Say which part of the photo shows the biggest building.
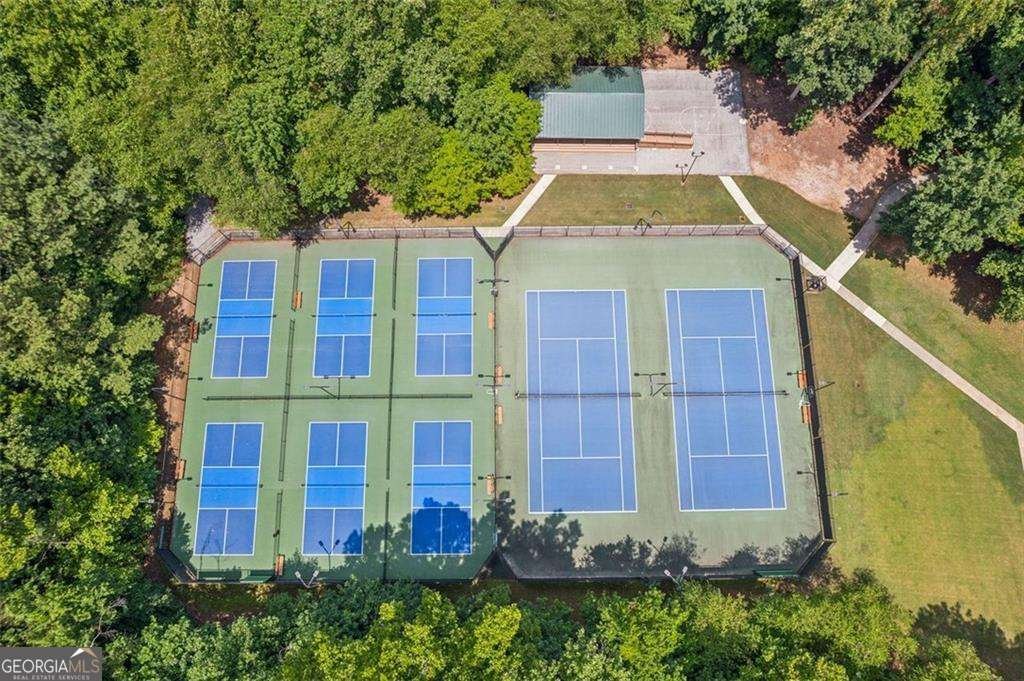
top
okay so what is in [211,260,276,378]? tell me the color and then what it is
blue sports court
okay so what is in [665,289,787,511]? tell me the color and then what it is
blue tennis court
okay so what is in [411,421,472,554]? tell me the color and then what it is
blue sports court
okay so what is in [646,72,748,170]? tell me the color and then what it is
white basketball court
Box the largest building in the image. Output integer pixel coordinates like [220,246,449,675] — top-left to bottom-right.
[532,67,644,146]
